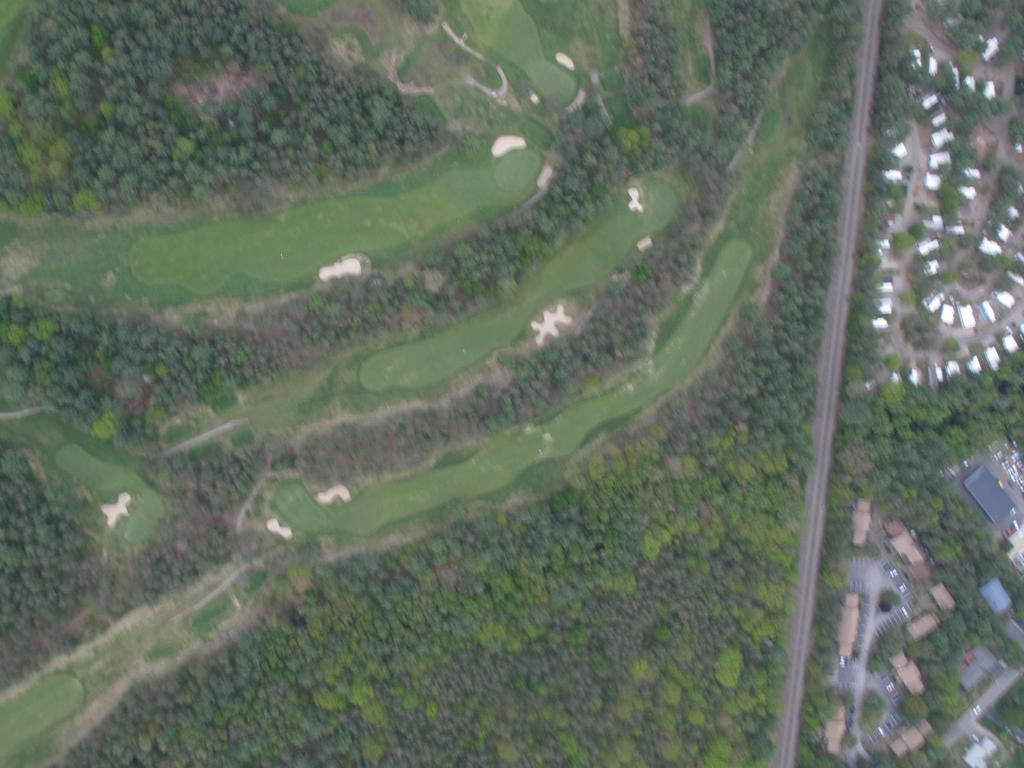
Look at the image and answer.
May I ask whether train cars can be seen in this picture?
No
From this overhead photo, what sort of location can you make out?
golf course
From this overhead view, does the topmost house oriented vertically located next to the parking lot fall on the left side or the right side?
right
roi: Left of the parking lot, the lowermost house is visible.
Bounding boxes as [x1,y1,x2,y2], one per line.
[825,706,845,756]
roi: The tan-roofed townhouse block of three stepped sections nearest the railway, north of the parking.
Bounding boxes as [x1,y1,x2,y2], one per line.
[849,500,870,544]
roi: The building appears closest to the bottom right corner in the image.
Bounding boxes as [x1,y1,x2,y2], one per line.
[958,735,998,768]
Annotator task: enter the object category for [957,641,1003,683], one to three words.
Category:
house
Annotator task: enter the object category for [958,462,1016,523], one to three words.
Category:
building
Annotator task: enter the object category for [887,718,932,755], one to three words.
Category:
house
